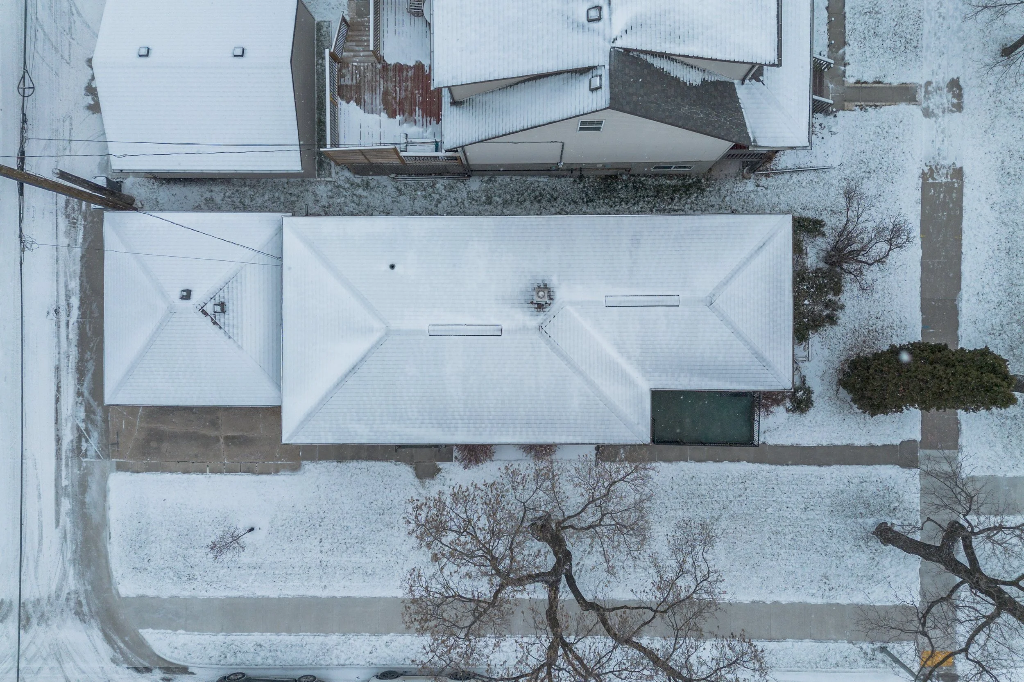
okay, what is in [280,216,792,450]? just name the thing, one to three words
house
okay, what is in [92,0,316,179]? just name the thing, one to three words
building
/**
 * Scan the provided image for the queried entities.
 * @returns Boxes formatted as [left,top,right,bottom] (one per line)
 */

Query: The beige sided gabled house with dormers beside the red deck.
[430,0,835,178]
